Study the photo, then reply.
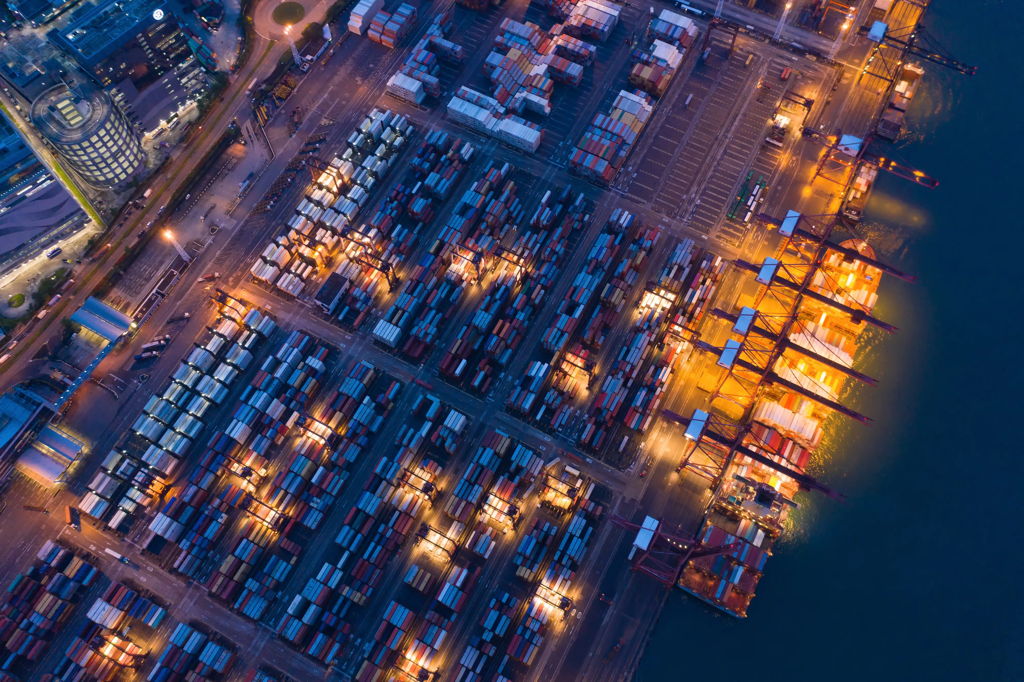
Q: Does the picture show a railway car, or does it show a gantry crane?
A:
gantry crane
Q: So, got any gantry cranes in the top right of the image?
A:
Yes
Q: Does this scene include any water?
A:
Yes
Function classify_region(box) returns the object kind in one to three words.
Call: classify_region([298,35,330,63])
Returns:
building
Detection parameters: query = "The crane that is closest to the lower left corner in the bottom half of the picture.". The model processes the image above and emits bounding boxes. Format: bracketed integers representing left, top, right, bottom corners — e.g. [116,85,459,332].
[92,635,148,673]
